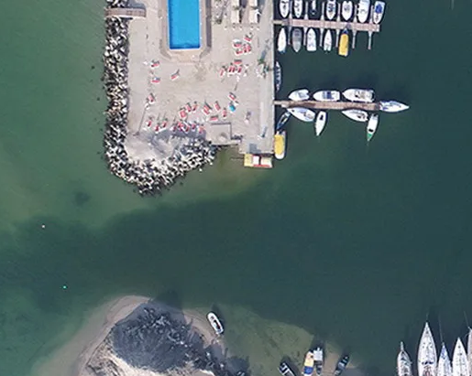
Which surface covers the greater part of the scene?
water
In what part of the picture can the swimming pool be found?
top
